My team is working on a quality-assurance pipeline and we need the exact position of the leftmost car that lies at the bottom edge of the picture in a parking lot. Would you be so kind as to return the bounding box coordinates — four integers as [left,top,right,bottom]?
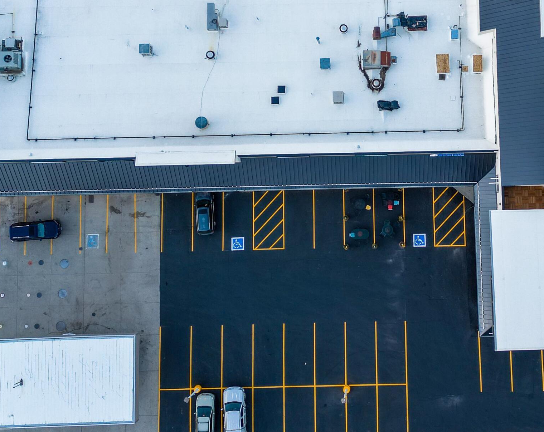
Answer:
[192,388,218,432]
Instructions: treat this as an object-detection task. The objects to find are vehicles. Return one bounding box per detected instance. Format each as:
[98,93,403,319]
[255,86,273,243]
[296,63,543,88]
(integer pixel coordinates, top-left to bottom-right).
[219,382,248,432]
[192,193,219,238]
[192,388,218,432]
[7,216,66,243]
